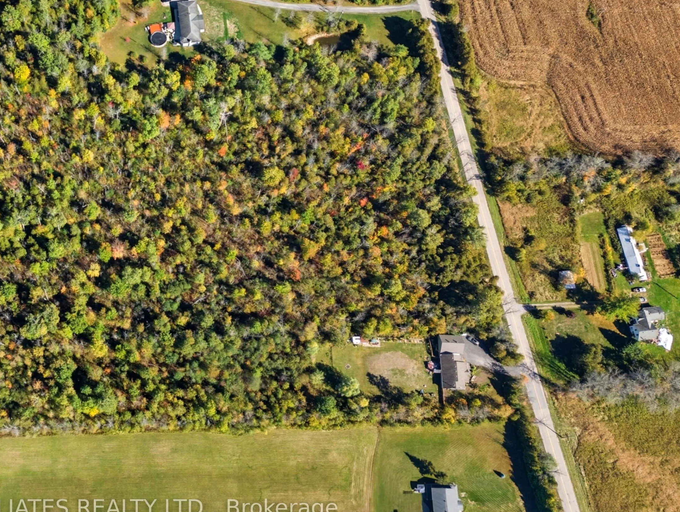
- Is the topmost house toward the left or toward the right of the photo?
left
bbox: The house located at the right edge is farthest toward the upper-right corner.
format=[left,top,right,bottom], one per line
[617,226,648,281]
